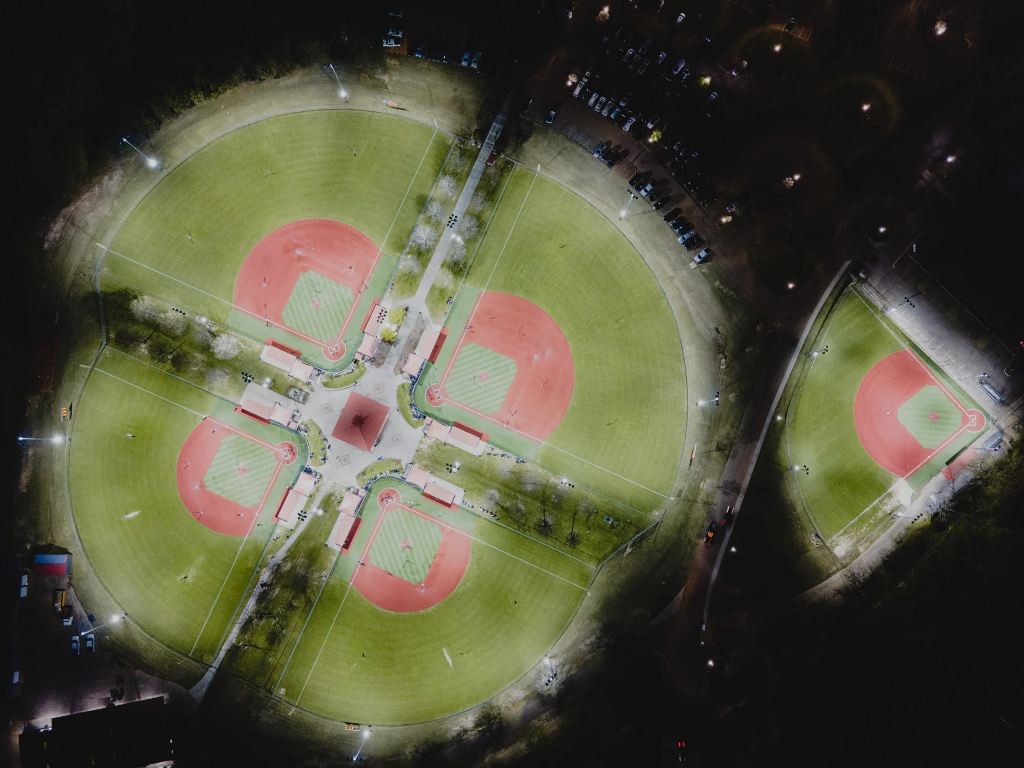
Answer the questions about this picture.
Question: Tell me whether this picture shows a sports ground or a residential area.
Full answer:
The area seen from above is a sports ground.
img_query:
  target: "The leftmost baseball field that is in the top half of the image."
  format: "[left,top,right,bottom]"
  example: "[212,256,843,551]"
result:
[99,109,456,373]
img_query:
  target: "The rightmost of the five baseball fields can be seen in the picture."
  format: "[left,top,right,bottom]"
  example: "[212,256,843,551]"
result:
[786,285,993,560]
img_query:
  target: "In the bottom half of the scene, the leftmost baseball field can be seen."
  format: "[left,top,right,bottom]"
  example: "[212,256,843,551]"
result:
[68,346,308,667]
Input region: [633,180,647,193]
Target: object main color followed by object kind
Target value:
black vehicle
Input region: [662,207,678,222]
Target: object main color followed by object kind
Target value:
black vehicle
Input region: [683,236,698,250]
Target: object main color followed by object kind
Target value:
black car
